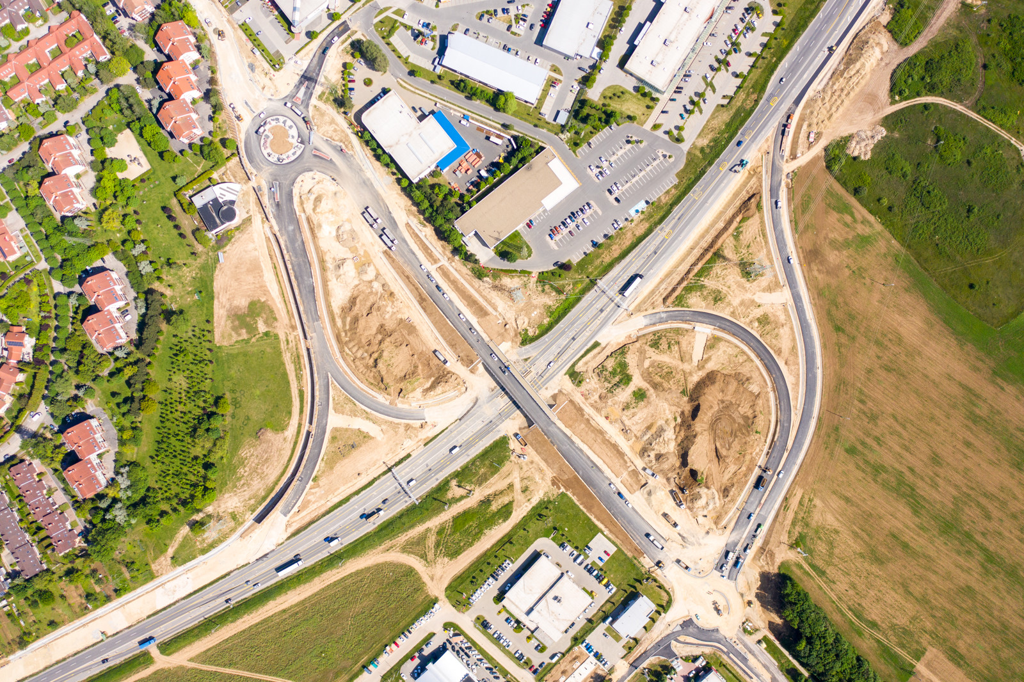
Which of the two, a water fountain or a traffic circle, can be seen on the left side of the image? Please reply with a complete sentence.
It is a traffic circle that can be seen on the left side of the image.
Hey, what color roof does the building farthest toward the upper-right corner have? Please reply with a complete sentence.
The roof of the building farthest toward the upper-right corner is white.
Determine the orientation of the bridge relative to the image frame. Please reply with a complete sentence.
From this overhead view, the bridge appears to run diagonally.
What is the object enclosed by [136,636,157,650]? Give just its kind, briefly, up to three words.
vehicle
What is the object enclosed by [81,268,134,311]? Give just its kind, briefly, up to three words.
house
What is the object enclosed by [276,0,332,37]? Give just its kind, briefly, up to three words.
building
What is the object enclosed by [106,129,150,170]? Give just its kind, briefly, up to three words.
playground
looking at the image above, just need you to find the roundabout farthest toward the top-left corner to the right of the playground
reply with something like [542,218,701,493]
[244,101,320,176]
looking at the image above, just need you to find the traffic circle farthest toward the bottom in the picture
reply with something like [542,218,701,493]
[672,557,746,631]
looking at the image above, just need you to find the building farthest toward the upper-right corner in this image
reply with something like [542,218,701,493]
[622,0,733,98]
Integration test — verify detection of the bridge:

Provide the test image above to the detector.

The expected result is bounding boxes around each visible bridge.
[468,340,567,433]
